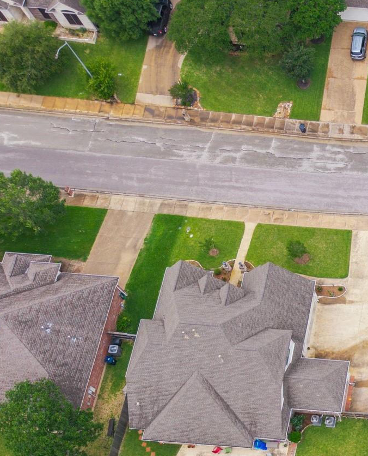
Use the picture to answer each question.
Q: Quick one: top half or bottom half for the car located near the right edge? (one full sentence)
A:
You can find the car located near the right edge in the top half.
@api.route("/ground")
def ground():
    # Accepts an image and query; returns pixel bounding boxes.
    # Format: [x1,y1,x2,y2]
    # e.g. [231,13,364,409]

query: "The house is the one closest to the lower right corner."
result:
[125,260,352,454]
